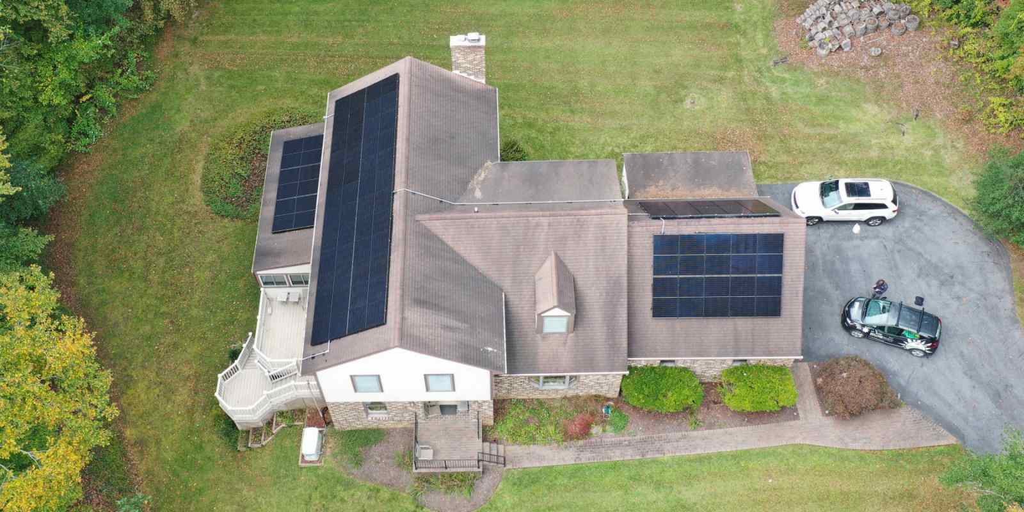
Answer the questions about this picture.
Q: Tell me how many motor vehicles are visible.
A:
2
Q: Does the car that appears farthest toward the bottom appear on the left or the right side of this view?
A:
right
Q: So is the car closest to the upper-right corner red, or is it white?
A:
white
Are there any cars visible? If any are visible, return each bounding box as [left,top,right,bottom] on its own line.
[841,297,943,358]
[790,176,898,227]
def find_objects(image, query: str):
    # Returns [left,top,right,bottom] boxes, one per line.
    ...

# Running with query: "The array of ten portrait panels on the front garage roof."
[652,232,782,319]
